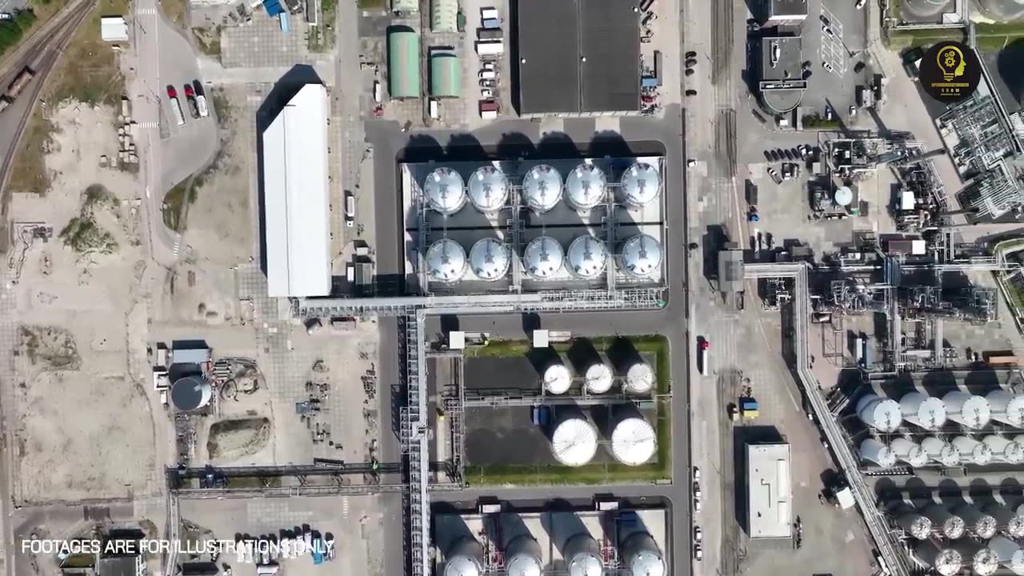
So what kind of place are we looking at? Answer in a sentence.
The area seen from above is an industrial area.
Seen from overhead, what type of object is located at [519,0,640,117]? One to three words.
building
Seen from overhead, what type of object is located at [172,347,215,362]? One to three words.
shed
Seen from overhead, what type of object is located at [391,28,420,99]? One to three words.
building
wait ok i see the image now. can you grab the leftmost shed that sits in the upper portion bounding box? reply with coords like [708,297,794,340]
[101,18,129,41]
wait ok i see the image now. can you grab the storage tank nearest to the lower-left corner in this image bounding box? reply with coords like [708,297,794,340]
[171,375,214,410]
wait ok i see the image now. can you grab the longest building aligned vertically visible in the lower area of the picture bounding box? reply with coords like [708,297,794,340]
[743,440,791,538]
